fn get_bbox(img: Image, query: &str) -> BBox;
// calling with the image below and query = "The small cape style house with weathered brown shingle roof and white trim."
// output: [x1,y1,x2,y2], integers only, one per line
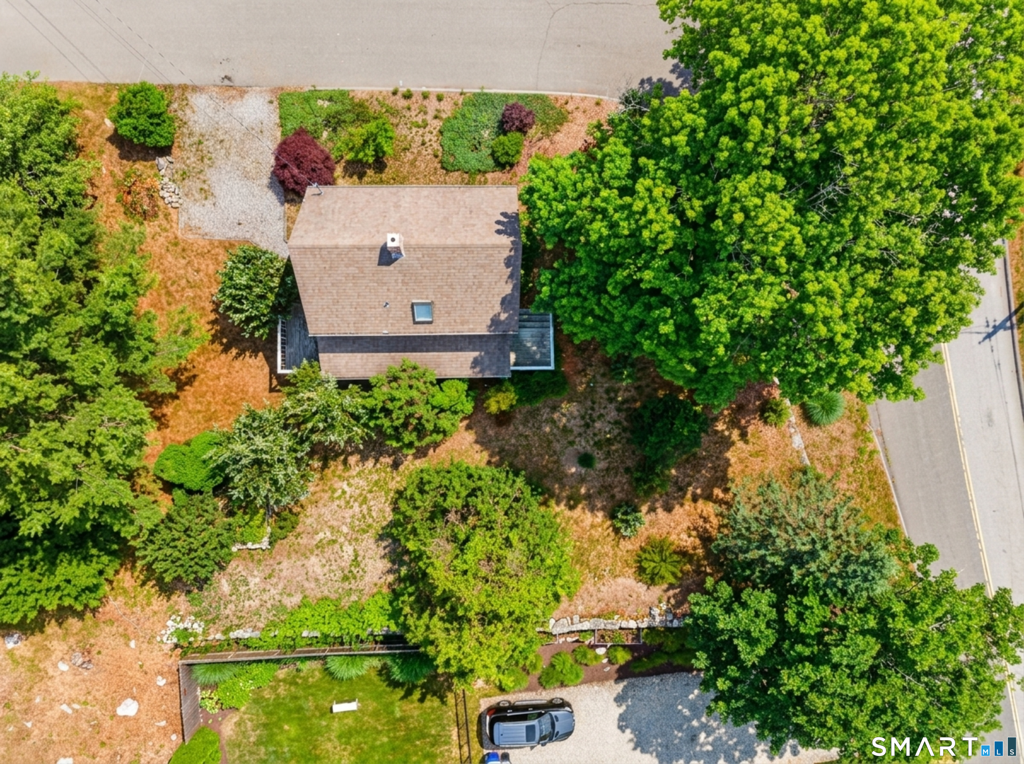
[284,184,521,379]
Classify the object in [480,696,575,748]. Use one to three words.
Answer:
car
